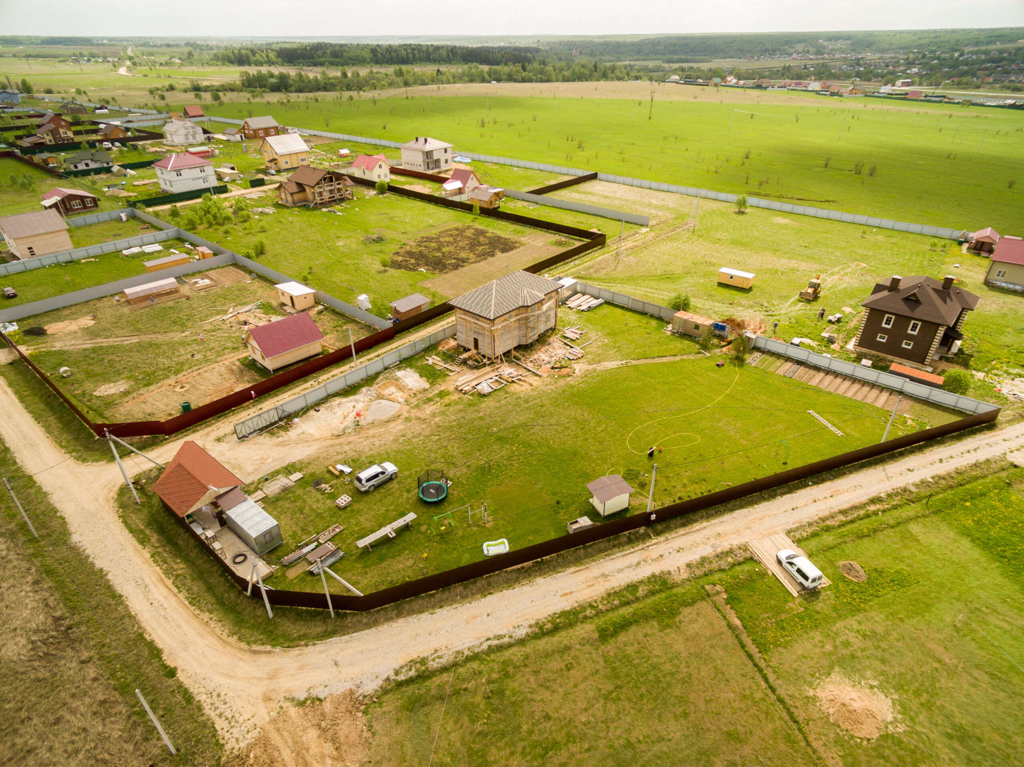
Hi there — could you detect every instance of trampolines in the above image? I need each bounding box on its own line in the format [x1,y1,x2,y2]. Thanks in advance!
[418,470,448,507]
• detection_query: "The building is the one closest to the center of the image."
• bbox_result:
[450,269,575,366]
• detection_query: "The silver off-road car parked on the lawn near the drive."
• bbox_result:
[353,461,400,493]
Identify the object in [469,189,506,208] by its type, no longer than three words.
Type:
building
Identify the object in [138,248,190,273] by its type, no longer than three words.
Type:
shed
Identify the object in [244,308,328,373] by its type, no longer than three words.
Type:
house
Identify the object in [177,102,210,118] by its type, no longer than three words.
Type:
barn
